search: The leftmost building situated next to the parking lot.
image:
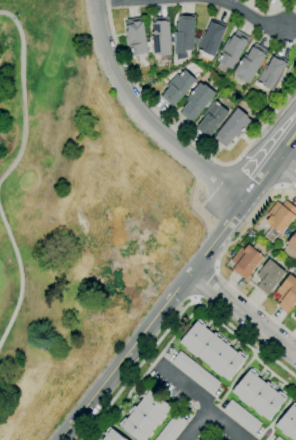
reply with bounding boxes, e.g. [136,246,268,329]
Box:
[120,392,170,440]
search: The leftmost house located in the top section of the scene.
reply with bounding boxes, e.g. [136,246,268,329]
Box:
[128,20,148,55]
